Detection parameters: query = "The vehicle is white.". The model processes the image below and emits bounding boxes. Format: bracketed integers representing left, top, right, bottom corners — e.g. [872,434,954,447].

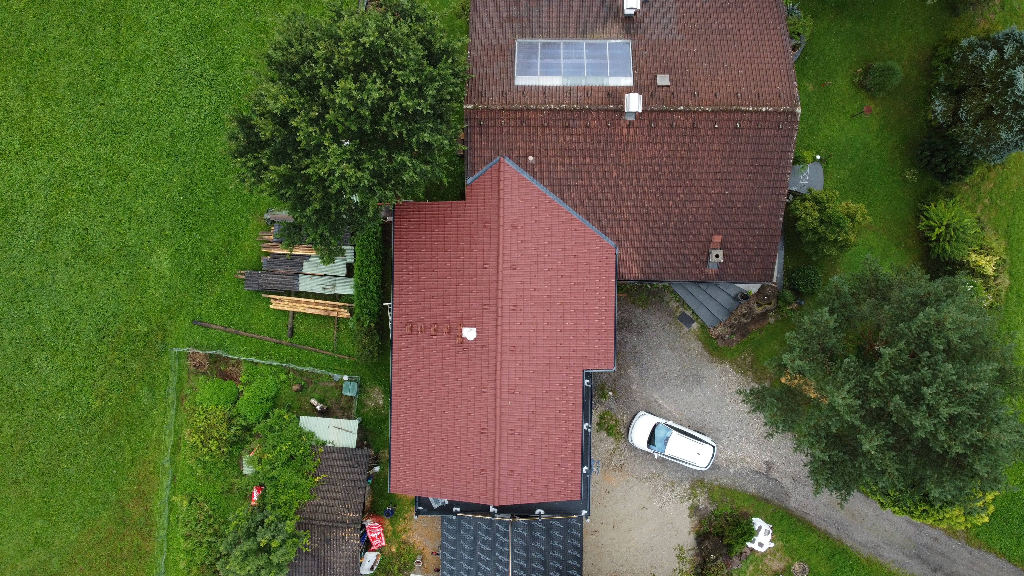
[625,409,720,472]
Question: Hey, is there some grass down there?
Yes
